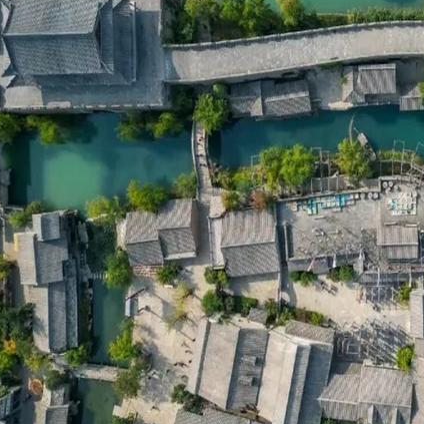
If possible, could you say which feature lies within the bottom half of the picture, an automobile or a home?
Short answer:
home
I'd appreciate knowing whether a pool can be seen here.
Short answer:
No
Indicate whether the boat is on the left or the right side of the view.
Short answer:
right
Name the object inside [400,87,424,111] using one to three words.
house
